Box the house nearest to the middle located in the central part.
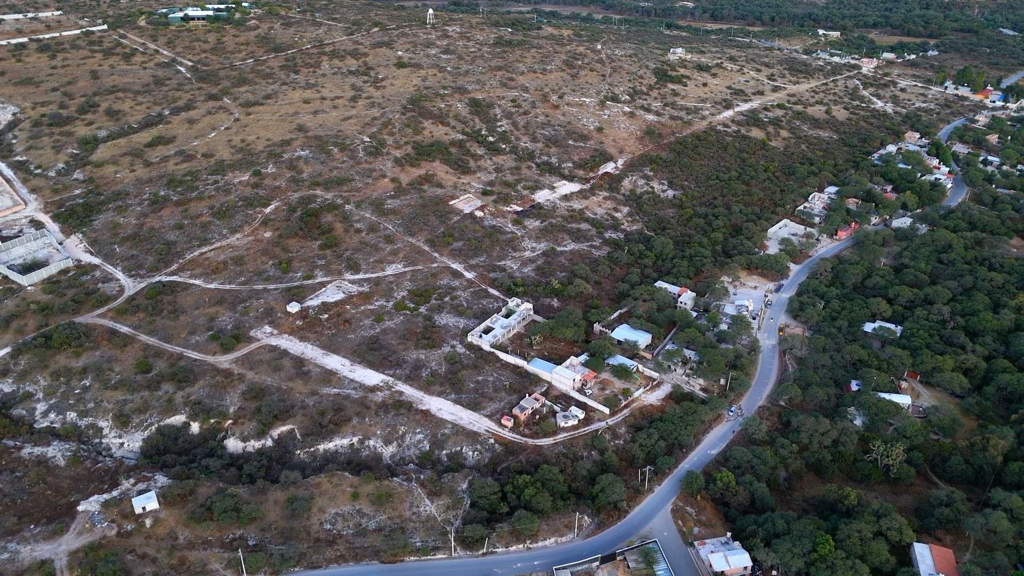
[468,299,535,354]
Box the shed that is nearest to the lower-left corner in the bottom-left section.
[134,488,163,514]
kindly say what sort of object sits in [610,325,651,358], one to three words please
building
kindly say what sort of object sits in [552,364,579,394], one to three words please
house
